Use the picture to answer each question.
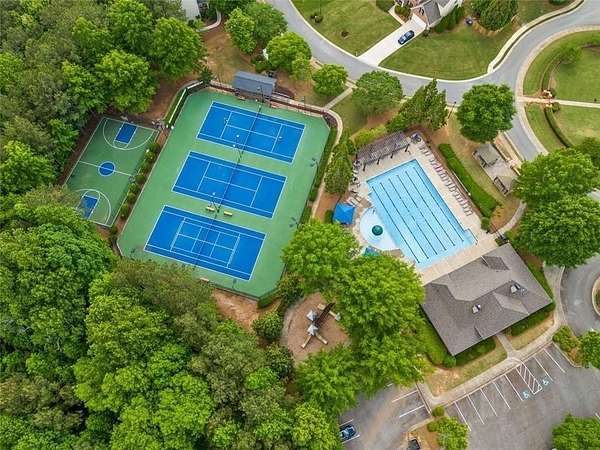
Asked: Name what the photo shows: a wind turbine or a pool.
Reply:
pool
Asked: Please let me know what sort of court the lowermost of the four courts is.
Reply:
tennis court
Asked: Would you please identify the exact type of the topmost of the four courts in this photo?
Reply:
tennis court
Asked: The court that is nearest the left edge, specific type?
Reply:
basketball court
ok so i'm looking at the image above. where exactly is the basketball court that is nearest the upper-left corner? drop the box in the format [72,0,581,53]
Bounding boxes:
[63,117,159,225]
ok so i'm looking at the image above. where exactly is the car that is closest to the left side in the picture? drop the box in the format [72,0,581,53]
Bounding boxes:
[344,424,360,440]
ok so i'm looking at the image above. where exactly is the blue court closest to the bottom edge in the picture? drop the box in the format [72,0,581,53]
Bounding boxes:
[144,205,267,281]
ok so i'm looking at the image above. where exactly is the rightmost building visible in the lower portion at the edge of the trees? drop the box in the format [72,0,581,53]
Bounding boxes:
[422,243,551,356]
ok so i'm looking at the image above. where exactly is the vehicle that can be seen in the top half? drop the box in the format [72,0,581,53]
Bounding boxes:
[398,28,415,42]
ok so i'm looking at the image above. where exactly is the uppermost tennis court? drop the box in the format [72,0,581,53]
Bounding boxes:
[196,102,306,163]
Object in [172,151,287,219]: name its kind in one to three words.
tennis court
